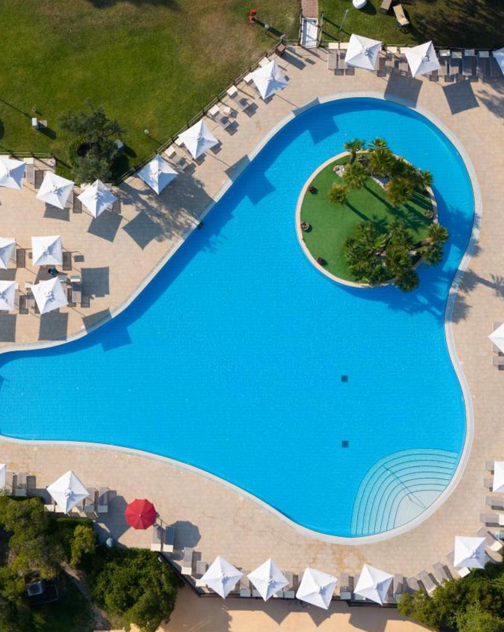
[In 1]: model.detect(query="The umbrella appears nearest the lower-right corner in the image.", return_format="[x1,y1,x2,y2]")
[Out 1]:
[452,535,484,567]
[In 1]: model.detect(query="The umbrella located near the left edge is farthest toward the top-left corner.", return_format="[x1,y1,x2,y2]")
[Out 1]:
[0,156,28,192]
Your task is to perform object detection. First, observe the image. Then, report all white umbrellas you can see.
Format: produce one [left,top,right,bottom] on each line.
[0,156,28,192]
[30,276,68,314]
[0,282,16,311]
[402,42,439,80]
[297,568,335,606]
[354,562,392,603]
[36,171,75,210]
[48,470,89,512]
[31,235,63,266]
[248,59,290,101]
[0,237,17,271]
[487,321,504,354]
[247,558,288,599]
[452,535,484,567]
[489,461,504,492]
[177,119,219,161]
[343,35,379,72]
[201,557,242,597]
[137,155,178,196]
[76,182,118,220]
